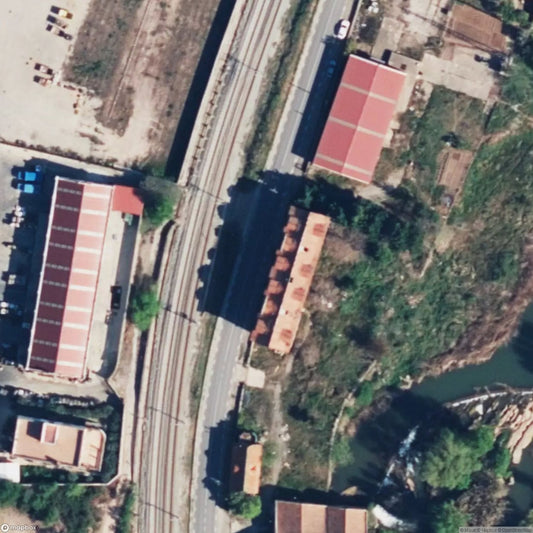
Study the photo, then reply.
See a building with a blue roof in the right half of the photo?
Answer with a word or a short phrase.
No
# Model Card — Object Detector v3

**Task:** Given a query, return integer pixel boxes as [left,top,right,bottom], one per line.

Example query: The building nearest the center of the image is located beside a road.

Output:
[251,204,332,355]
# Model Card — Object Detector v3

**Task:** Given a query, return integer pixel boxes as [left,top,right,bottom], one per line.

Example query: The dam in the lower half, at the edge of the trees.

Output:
[371,388,533,506]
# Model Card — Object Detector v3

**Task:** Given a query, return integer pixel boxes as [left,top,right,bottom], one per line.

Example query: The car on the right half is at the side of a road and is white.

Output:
[336,18,350,39]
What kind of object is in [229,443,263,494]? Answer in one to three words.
house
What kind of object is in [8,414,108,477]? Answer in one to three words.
house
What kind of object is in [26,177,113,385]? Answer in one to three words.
building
